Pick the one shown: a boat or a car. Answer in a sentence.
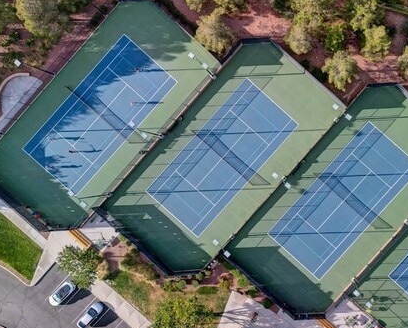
Of the two, only a car appears.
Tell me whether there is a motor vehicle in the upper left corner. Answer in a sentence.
No, no motor vehicle is visible in the upper left corner.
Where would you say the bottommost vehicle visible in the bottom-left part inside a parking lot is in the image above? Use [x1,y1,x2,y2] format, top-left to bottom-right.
[77,300,105,328]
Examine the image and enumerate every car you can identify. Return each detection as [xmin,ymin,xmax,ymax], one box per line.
[49,279,77,306]
[77,300,105,328]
